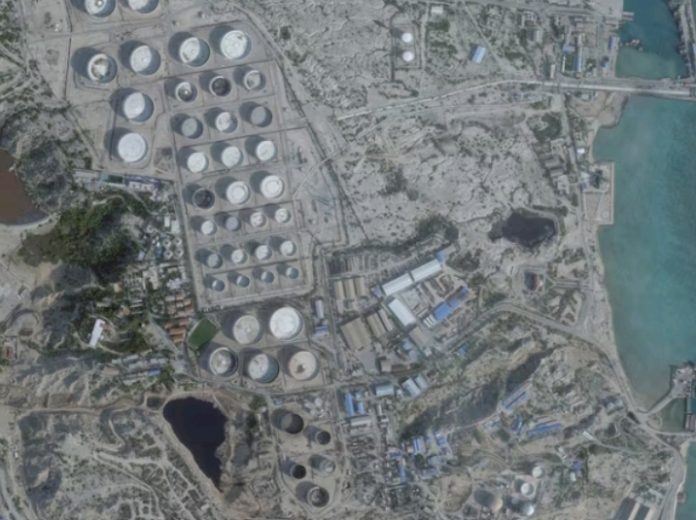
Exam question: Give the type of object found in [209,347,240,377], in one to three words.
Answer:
storage tank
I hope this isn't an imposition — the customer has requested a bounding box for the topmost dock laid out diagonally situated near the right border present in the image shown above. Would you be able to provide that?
[640,361,696,413]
